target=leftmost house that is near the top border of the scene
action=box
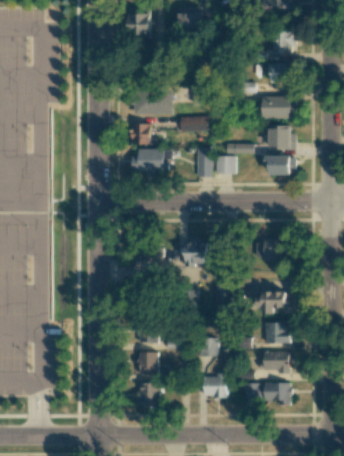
[126,12,155,34]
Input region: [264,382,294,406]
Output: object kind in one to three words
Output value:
house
